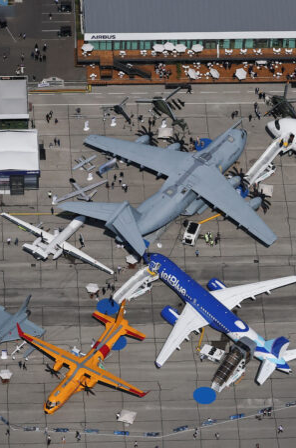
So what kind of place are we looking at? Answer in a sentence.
What you see here is an airport.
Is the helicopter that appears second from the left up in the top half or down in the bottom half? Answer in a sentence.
You can find the helicopter that appears second from the left in the top half.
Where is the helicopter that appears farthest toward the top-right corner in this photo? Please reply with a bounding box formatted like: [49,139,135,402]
[258,83,296,120]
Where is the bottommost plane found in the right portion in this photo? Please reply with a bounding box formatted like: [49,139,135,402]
[142,256,296,385]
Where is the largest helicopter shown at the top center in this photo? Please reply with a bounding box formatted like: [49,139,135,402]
[134,87,196,136]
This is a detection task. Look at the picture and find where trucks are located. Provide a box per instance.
[181,220,202,249]
[196,340,225,364]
